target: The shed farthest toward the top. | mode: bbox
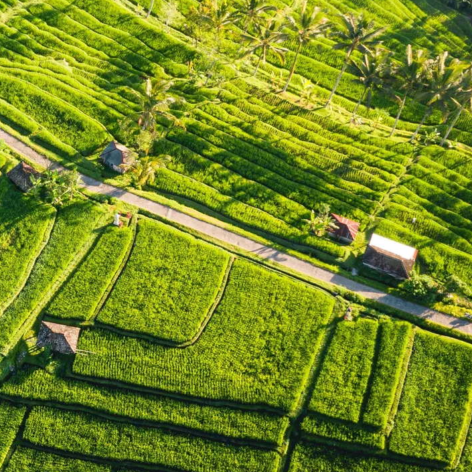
[100,143,134,178]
